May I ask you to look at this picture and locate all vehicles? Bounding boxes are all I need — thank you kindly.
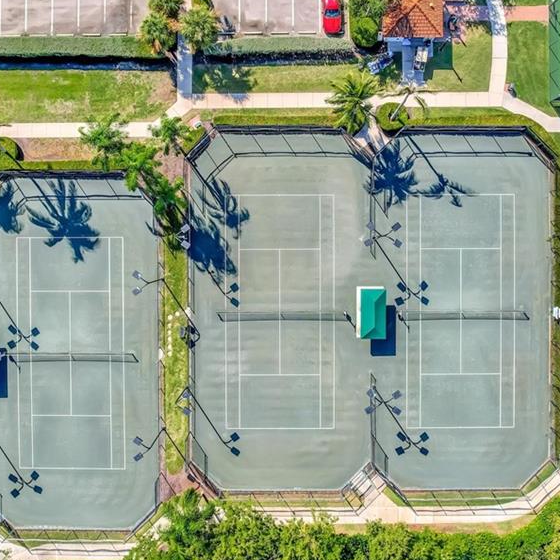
[414,43,431,68]
[321,0,344,34]
[369,51,394,71]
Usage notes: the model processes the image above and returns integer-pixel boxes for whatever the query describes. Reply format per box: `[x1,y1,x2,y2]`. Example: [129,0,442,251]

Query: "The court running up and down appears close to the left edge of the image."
[0,176,158,529]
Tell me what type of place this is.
sports ground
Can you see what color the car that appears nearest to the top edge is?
red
